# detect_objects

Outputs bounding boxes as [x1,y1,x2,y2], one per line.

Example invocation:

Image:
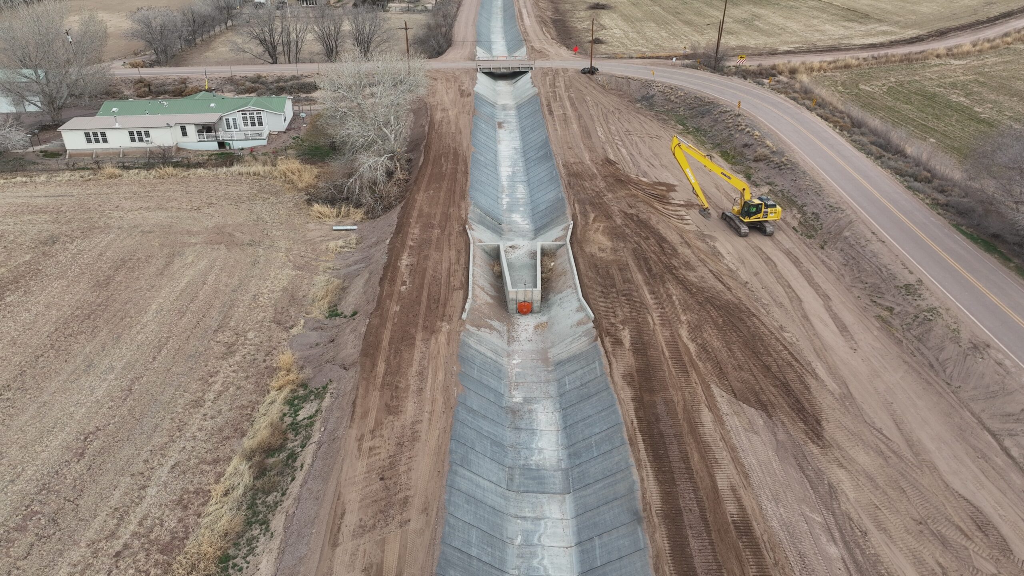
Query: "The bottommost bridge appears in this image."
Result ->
[467,57,542,76]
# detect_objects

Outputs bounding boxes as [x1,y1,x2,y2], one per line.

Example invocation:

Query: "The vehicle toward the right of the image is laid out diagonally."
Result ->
[669,134,783,237]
